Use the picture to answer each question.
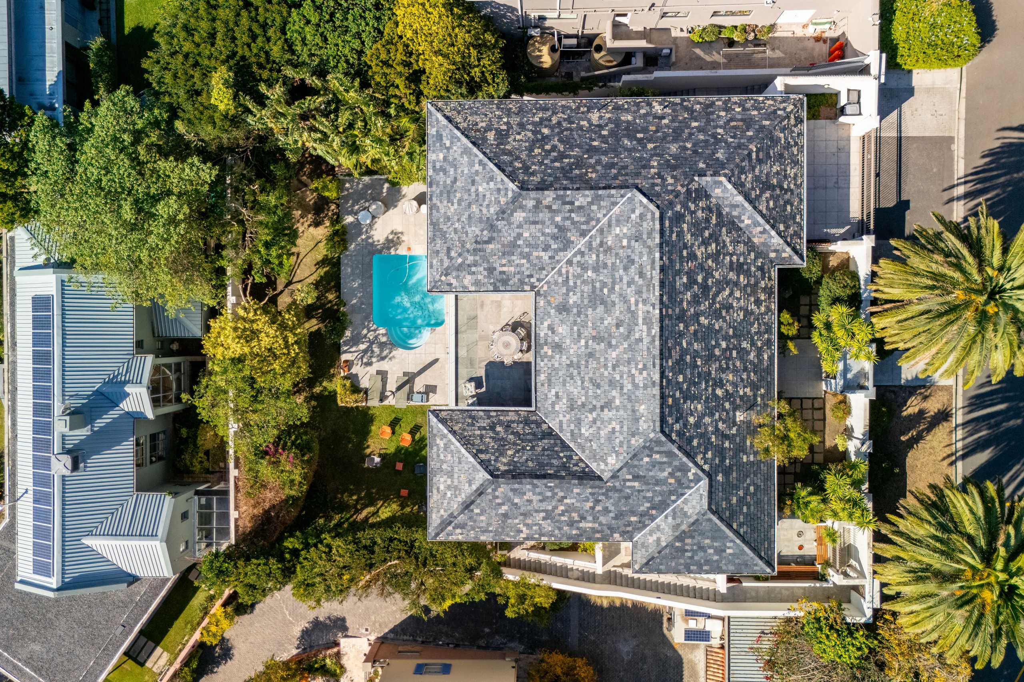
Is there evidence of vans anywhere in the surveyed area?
Yes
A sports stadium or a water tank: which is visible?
water tank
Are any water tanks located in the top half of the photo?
Yes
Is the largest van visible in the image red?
No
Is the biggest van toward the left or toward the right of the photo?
right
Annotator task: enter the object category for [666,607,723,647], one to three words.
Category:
van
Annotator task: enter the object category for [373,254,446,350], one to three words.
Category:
swimming pool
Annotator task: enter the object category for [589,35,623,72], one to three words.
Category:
water tank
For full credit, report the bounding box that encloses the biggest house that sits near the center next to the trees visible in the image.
[425,92,808,577]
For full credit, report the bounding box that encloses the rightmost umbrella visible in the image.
[379,390,396,403]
